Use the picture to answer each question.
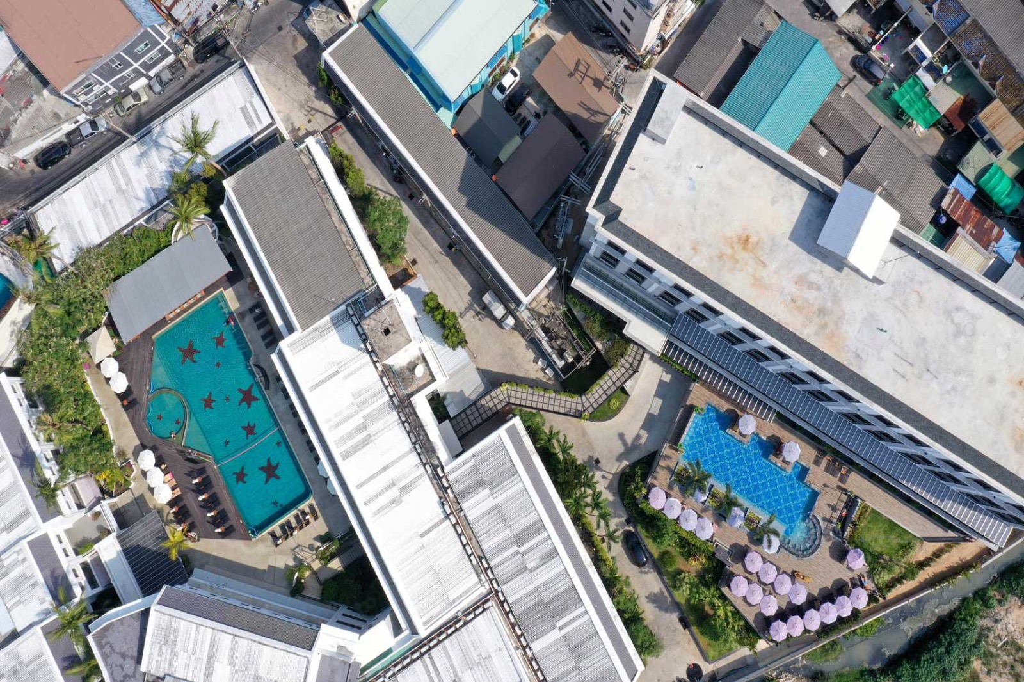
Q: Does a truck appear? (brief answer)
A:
Yes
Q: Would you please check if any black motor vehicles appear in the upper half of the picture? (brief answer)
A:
Yes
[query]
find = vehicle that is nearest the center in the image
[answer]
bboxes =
[481,292,520,330]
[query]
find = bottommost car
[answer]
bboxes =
[619,528,650,568]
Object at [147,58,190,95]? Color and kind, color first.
gray truck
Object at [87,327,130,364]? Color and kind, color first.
white tent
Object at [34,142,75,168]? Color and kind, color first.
black car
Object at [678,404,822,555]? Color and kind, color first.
blue swimming pool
